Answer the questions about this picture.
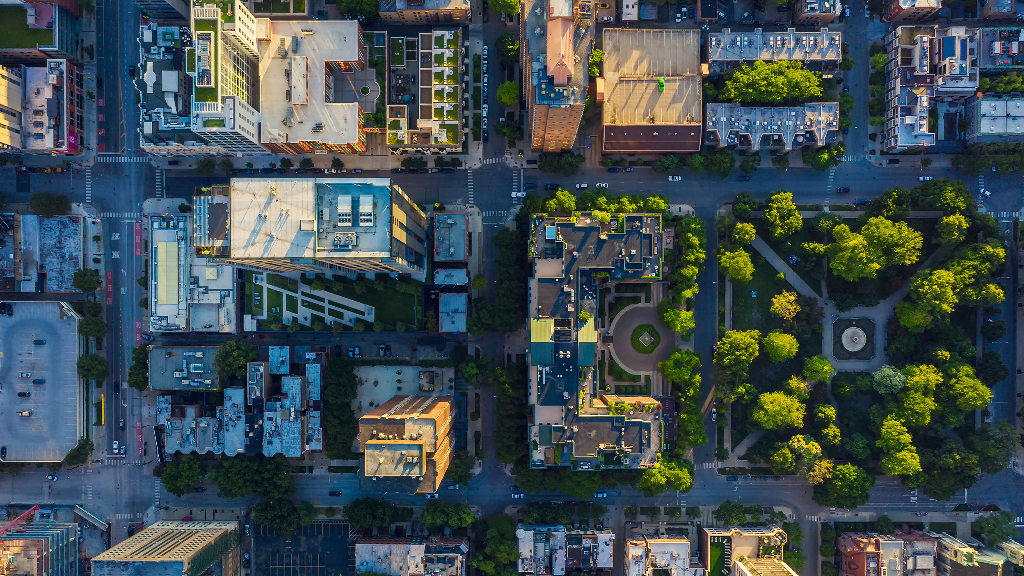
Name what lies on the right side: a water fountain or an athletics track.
water fountain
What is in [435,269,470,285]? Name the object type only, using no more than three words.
house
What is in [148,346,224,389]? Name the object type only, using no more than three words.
building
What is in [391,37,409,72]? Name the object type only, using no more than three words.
house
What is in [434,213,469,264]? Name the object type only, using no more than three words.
building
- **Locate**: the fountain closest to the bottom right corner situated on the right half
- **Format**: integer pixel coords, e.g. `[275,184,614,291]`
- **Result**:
[842,326,868,352]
